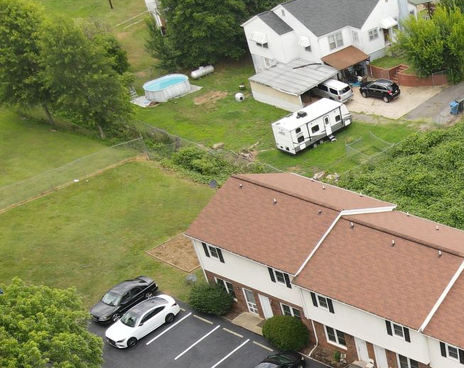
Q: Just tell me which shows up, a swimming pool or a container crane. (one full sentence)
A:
It is a swimming pool that can be seen here.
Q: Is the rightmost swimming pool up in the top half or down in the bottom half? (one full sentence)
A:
The rightmost swimming pool is in the top half of the image.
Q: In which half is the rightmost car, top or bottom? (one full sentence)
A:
Seen from above, the rightmost car lies in the top half of the view.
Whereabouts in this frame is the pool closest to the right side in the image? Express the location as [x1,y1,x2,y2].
[140,81,190,106]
